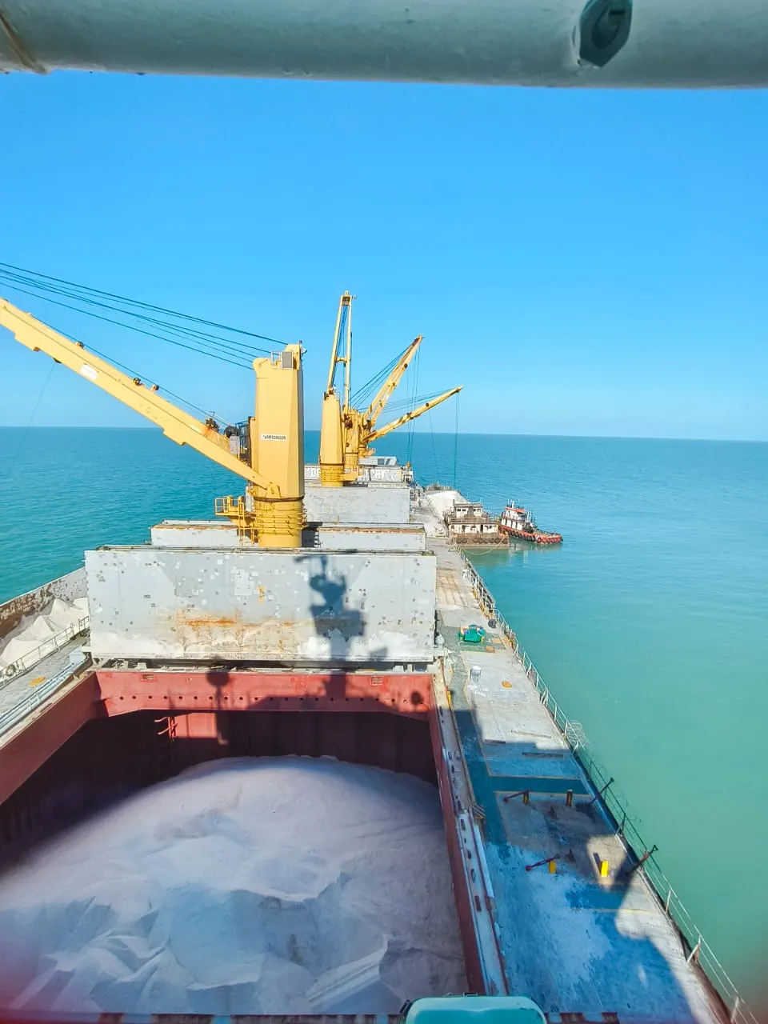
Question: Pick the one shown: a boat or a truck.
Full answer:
There is a boat in the scene.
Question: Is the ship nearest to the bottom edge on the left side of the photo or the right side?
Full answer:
The ship nearest to the bottom edge is on the left side of the image.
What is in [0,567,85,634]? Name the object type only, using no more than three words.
ship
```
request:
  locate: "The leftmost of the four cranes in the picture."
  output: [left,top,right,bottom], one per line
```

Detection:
[0,244,310,669]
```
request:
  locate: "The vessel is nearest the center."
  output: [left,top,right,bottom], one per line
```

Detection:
[417,477,510,550]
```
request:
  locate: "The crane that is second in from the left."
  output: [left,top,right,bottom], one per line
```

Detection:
[318,289,364,485]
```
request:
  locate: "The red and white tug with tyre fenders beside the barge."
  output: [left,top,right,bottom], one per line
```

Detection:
[498,494,565,544]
